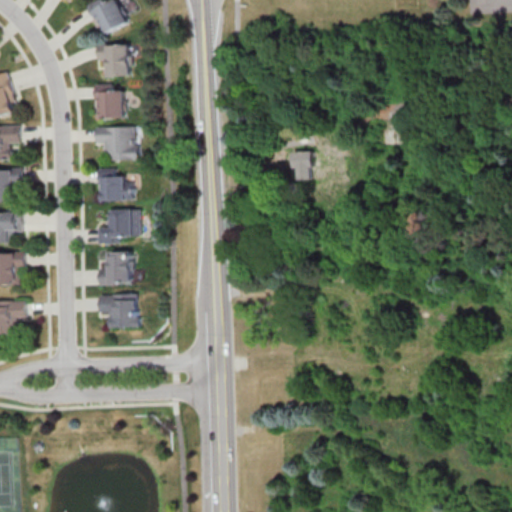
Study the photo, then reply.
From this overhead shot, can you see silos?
No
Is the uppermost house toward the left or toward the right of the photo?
left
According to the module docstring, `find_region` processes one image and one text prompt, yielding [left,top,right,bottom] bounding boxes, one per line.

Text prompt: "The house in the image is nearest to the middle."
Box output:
[289,152,312,180]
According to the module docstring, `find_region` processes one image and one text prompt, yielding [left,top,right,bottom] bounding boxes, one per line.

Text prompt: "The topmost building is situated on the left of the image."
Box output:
[87,0,124,33]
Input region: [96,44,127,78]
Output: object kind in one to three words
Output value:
house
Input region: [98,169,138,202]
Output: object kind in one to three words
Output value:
house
